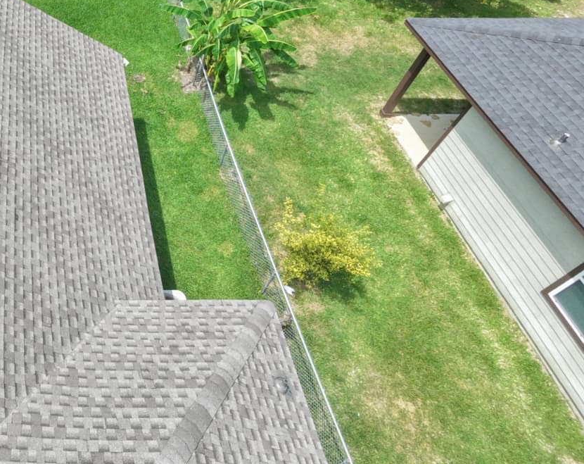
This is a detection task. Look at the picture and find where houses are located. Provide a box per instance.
[0,0,328,464]
[385,18,584,430]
